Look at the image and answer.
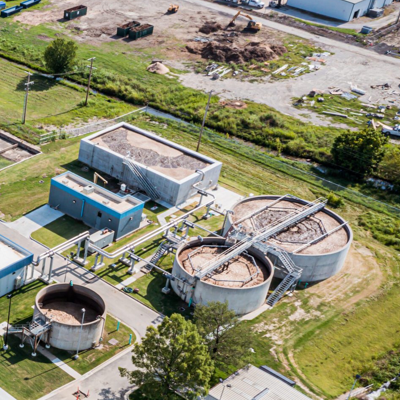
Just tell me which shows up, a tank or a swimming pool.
tank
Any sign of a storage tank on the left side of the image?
Yes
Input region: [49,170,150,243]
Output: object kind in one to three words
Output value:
building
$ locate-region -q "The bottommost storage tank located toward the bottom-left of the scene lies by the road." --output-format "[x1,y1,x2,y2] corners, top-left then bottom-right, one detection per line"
[8,276,113,351]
